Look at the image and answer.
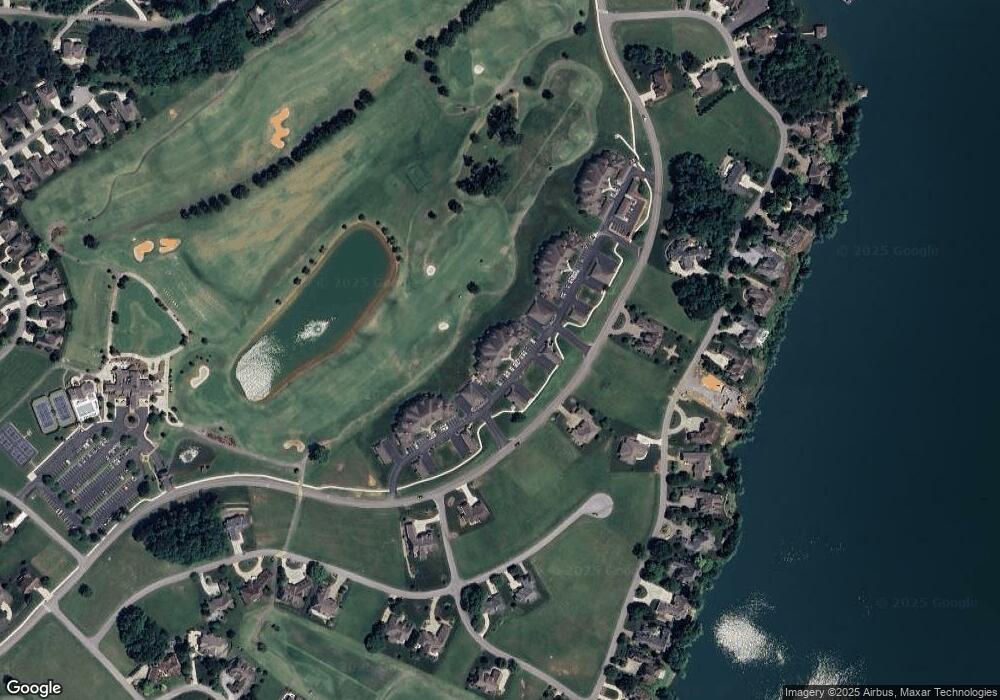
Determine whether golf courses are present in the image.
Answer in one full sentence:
Yes, there is a golf course in the image.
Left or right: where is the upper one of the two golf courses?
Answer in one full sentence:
You can find the upper one of the two golf courses on the left side of the picture.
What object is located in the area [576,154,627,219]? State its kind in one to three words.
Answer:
building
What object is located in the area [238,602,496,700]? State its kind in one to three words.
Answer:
golf course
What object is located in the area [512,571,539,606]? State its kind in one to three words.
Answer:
house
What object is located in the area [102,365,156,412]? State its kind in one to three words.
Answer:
building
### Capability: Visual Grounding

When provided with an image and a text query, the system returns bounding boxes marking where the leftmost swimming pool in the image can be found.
[76,400,96,416]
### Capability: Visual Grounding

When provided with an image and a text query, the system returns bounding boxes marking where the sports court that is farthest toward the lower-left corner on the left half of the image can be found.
[0,422,38,467]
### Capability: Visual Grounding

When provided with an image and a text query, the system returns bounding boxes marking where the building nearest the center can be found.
[475,317,533,386]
